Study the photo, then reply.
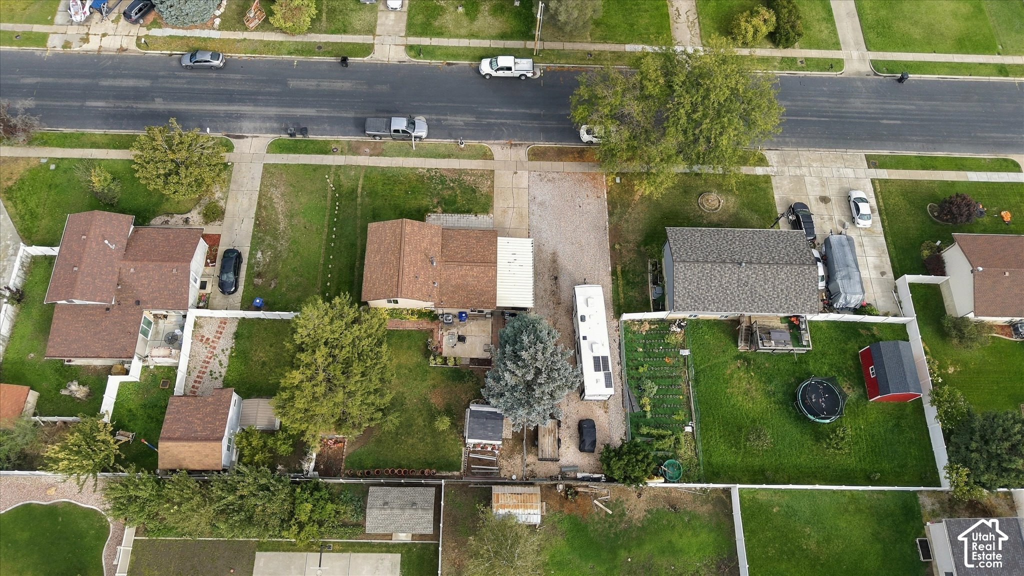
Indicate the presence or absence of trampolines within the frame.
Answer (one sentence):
Yes, a trampoline is visible in the scene.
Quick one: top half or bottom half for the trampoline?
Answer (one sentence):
It is in the bottom half that the trampoline appears.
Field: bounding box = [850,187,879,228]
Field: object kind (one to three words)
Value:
car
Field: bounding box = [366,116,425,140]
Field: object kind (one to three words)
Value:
truck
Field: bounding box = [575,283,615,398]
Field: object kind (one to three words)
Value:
trailer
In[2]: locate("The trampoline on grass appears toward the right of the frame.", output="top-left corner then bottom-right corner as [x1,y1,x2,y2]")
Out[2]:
[791,375,851,422]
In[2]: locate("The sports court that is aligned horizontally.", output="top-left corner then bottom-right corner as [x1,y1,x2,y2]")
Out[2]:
[256,552,400,576]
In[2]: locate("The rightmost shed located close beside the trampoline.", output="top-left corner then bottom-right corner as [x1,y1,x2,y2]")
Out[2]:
[859,339,922,402]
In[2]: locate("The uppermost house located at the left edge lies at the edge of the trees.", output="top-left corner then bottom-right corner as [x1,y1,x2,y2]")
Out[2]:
[41,210,209,364]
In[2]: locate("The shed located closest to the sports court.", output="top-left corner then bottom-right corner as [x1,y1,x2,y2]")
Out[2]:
[365,485,436,536]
